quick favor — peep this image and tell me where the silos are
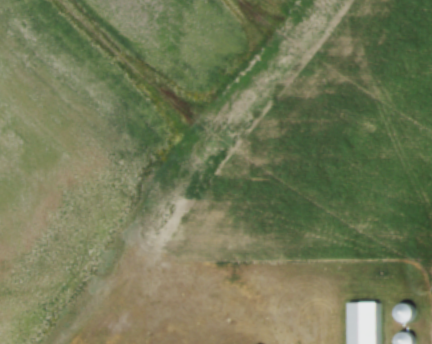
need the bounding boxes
[392,304,418,326]
[392,332,418,344]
